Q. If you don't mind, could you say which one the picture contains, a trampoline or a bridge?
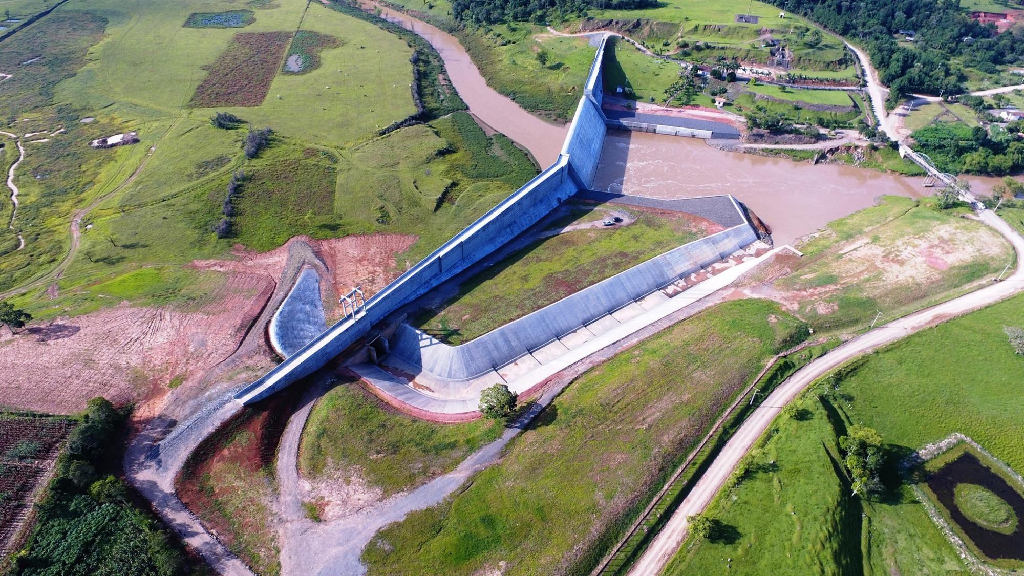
bridge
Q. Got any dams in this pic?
Yes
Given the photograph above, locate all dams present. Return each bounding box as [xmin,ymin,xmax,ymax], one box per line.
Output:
[235,38,607,414]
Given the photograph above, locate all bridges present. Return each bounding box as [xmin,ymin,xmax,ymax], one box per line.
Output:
[888,145,975,204]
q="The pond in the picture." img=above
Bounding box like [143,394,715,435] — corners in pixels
[930,454,1024,562]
